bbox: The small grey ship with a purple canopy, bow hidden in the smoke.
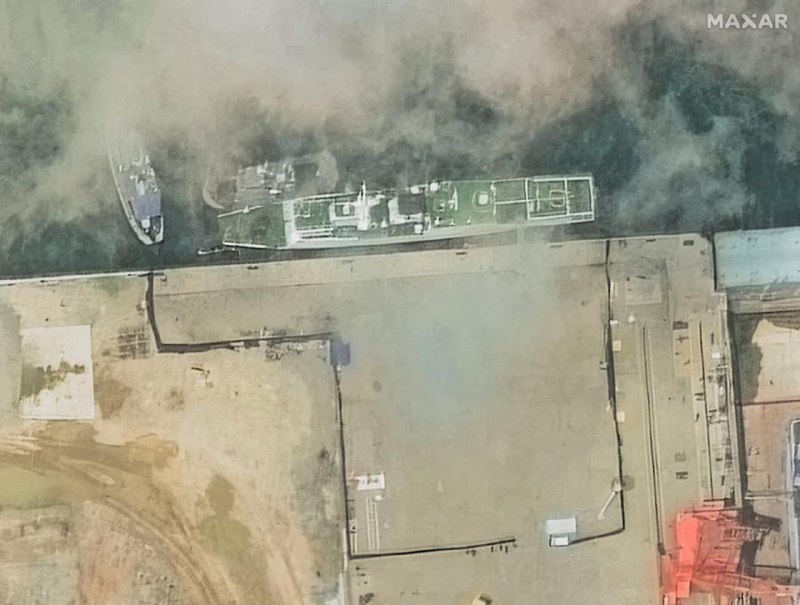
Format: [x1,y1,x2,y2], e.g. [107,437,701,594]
[107,109,164,247]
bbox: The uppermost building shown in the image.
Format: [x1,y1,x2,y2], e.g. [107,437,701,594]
[716,231,800,293]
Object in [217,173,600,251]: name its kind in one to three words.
ship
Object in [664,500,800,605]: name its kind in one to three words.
crane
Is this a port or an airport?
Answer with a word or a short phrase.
port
